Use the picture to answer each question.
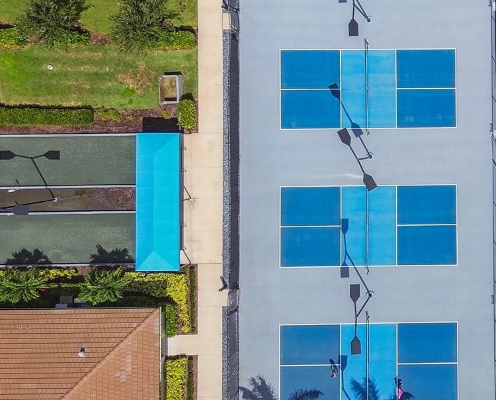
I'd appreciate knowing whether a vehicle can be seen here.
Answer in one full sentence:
No, no vehicle is visible in the scene.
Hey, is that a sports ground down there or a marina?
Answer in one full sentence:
This looks like a sports ground.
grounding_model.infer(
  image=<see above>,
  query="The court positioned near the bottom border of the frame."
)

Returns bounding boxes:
[279,321,459,400]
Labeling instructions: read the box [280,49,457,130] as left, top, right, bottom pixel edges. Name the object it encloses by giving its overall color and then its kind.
blue sports court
